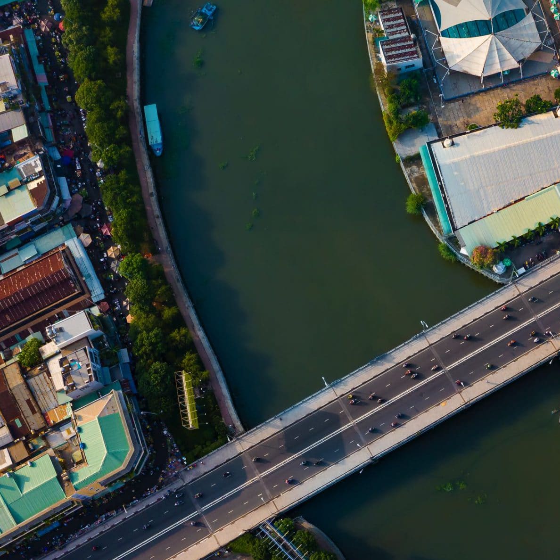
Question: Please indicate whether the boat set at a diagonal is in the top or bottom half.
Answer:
top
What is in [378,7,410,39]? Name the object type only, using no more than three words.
house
